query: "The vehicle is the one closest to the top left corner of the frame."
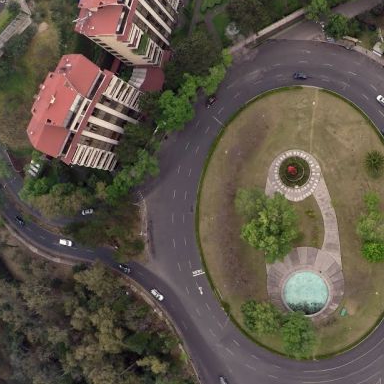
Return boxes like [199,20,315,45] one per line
[26,160,41,174]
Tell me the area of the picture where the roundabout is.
right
